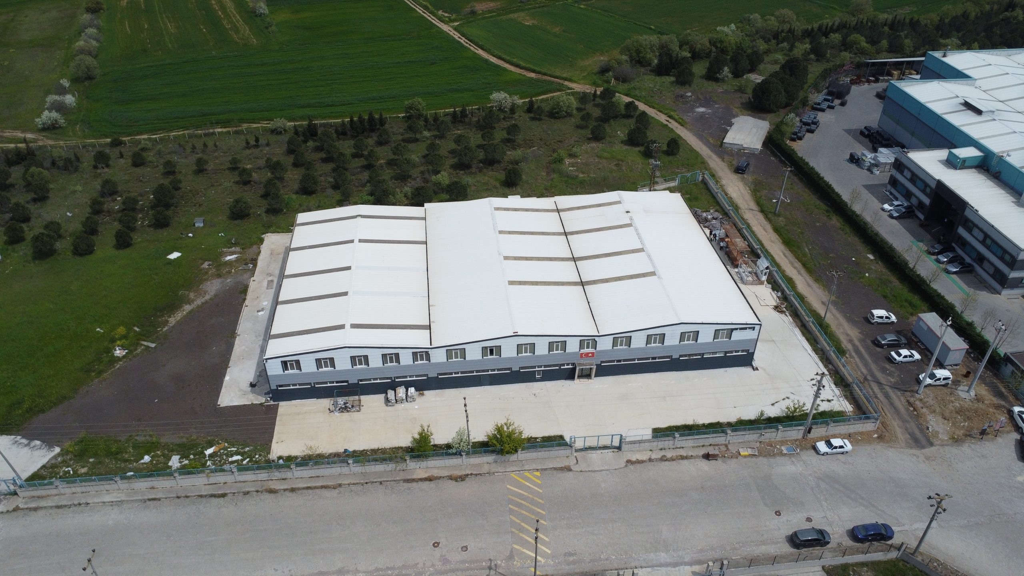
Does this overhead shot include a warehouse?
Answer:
Yes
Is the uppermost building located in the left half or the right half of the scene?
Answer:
right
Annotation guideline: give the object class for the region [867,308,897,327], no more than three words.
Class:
vehicle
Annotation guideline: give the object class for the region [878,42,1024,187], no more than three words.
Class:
building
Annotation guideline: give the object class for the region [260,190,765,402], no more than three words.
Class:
warehouse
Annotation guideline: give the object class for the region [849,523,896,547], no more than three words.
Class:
car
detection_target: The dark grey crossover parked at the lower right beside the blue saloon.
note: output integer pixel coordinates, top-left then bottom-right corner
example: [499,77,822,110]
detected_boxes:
[788,527,834,552]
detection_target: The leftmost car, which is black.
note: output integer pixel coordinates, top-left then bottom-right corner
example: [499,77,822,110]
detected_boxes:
[736,160,749,174]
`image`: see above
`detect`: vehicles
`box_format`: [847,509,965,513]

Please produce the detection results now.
[890,207,916,220]
[888,349,922,366]
[884,201,909,213]
[867,308,897,327]
[874,334,909,349]
[849,523,896,547]
[935,253,965,266]
[927,244,958,256]
[788,527,834,552]
[945,262,977,276]
[814,438,854,457]
[918,370,953,388]
[736,160,749,174]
